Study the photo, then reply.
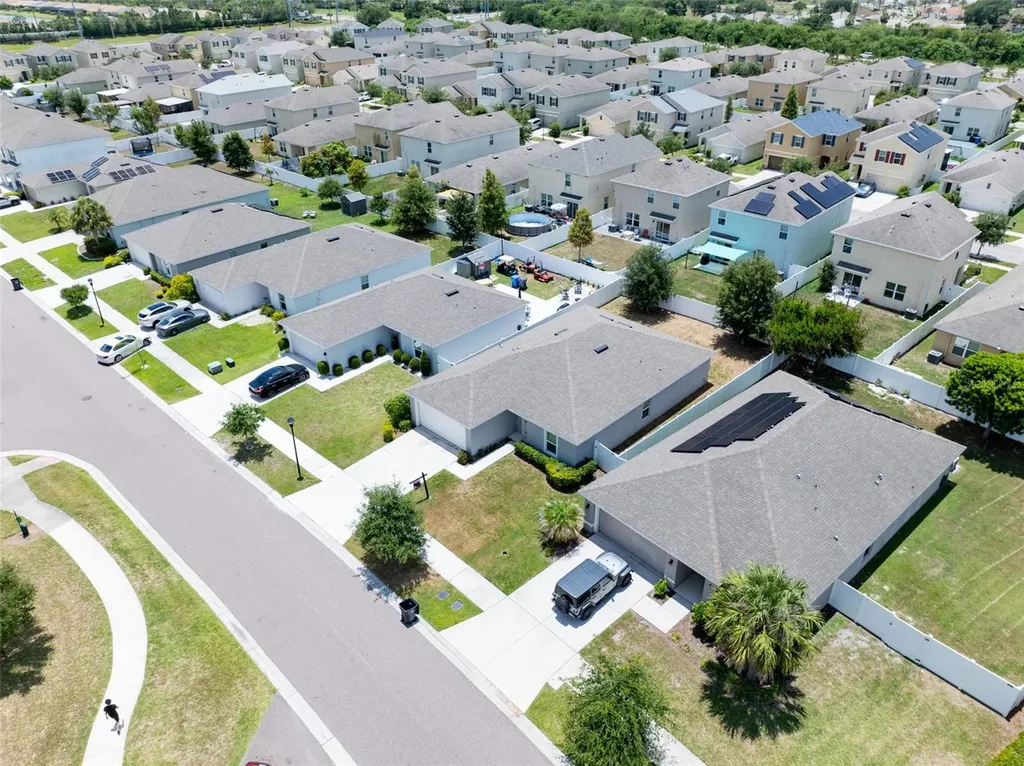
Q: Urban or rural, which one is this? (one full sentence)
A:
From above, the setting appears urban.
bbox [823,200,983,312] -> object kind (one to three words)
house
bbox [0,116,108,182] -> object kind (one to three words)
house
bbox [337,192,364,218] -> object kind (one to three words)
shed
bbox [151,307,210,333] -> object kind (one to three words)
car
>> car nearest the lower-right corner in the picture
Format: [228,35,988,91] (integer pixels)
[556,562,635,621]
